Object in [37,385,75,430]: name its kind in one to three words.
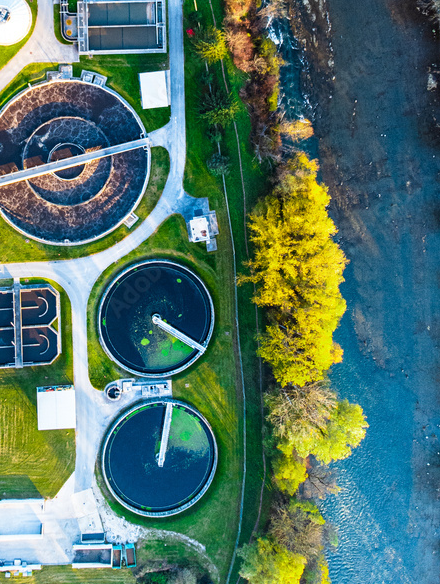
shed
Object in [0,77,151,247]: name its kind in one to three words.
storage tank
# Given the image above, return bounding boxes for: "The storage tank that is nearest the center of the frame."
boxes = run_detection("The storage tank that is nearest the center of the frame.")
[100,260,214,375]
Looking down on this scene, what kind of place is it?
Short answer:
industrial area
